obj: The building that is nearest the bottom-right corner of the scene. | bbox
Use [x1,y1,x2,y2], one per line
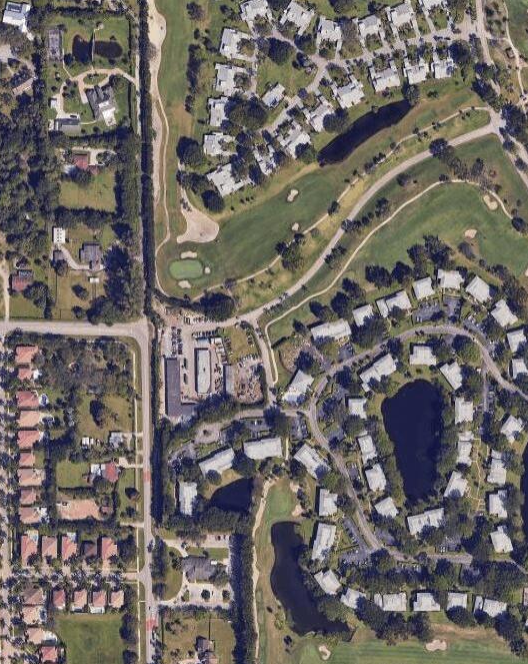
[473,596,507,619]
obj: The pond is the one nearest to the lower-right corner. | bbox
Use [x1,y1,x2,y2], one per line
[269,520,355,639]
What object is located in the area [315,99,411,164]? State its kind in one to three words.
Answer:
pond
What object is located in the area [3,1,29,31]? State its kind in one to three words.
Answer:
house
